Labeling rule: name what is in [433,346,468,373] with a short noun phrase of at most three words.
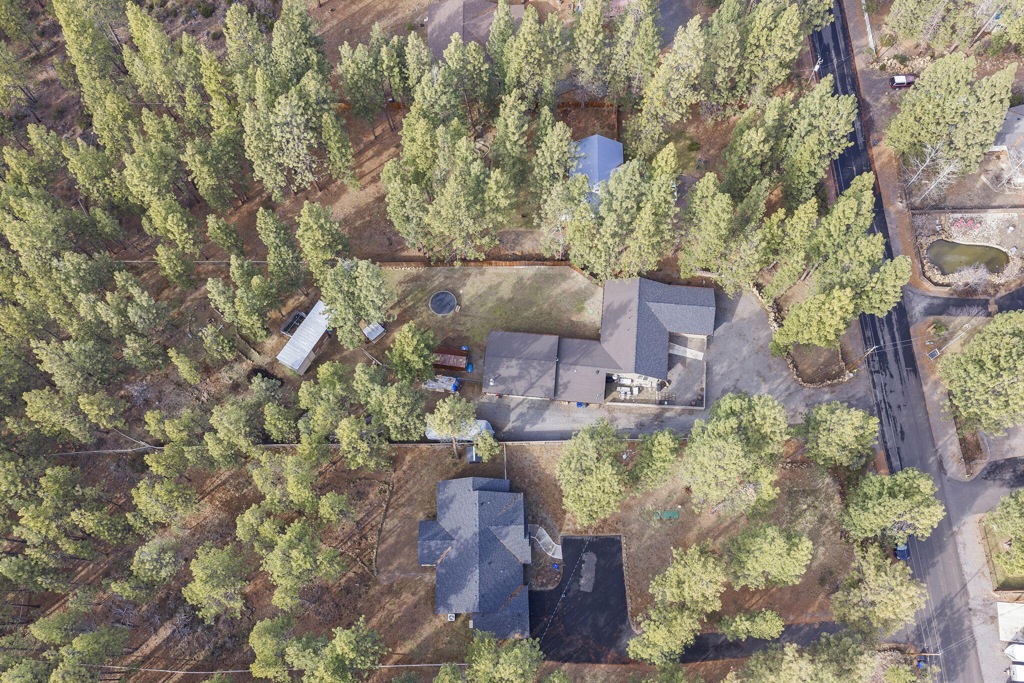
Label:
shed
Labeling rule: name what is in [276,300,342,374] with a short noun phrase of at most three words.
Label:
shed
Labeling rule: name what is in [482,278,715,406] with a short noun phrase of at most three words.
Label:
house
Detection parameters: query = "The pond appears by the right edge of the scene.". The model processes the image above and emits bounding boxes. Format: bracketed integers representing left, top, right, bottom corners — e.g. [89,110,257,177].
[929,239,1009,275]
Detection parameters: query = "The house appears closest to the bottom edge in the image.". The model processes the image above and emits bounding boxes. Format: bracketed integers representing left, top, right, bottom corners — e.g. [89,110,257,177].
[418,477,531,639]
